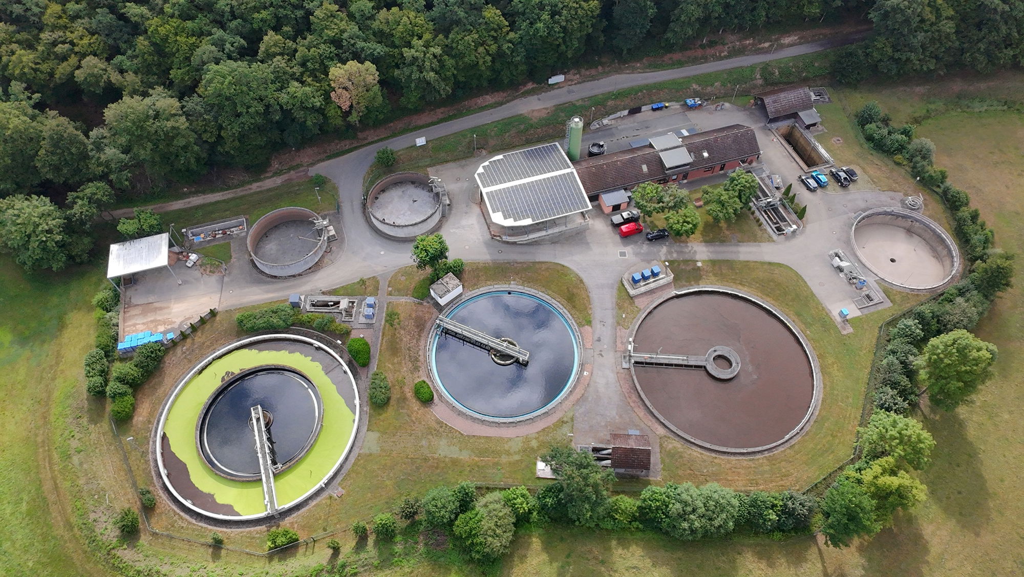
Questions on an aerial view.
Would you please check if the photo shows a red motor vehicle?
Yes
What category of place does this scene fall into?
industrial area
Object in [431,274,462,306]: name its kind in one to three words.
shed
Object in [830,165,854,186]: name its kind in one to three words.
truck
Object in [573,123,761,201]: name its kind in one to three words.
building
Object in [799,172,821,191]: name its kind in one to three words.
car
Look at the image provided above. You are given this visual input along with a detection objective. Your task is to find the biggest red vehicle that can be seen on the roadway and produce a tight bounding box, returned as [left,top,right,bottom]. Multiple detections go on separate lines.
[618,220,646,238]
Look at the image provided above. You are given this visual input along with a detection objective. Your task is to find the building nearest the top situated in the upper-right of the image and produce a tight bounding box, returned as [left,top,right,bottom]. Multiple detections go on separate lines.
[747,83,824,130]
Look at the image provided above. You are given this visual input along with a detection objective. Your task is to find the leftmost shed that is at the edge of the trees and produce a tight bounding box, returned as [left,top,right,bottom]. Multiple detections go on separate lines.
[106,234,181,297]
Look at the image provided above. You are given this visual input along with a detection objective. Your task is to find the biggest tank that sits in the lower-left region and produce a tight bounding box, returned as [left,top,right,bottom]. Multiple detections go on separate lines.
[156,334,360,520]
